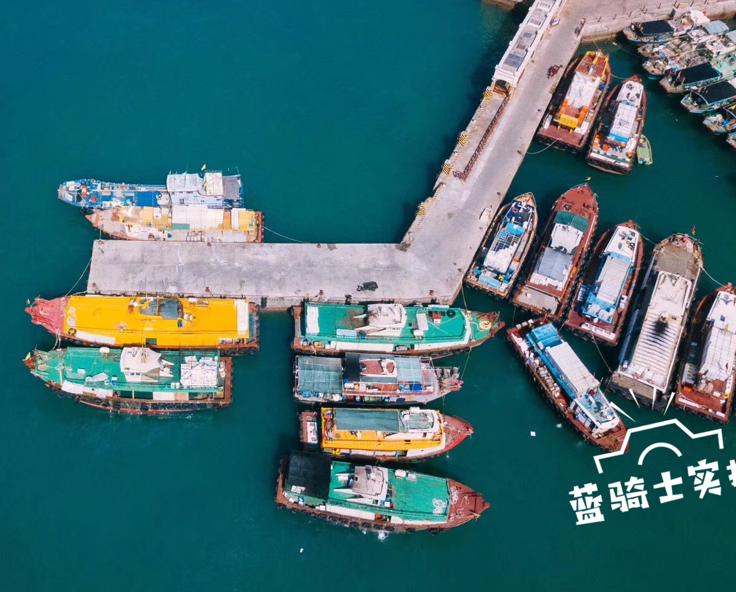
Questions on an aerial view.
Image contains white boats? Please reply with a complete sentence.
Yes, the frame does contain a white boat.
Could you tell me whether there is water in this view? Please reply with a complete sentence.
Yes, the picture does contain water.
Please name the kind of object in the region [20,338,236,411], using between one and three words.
boat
